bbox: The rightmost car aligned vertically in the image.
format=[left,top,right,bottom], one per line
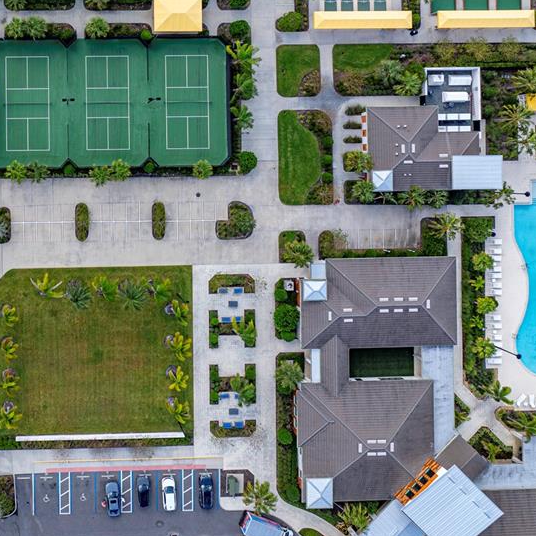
[198,470,215,508]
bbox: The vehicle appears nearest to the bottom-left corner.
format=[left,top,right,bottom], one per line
[99,478,126,514]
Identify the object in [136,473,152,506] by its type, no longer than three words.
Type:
car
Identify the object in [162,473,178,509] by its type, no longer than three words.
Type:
car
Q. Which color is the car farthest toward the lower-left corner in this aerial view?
blue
